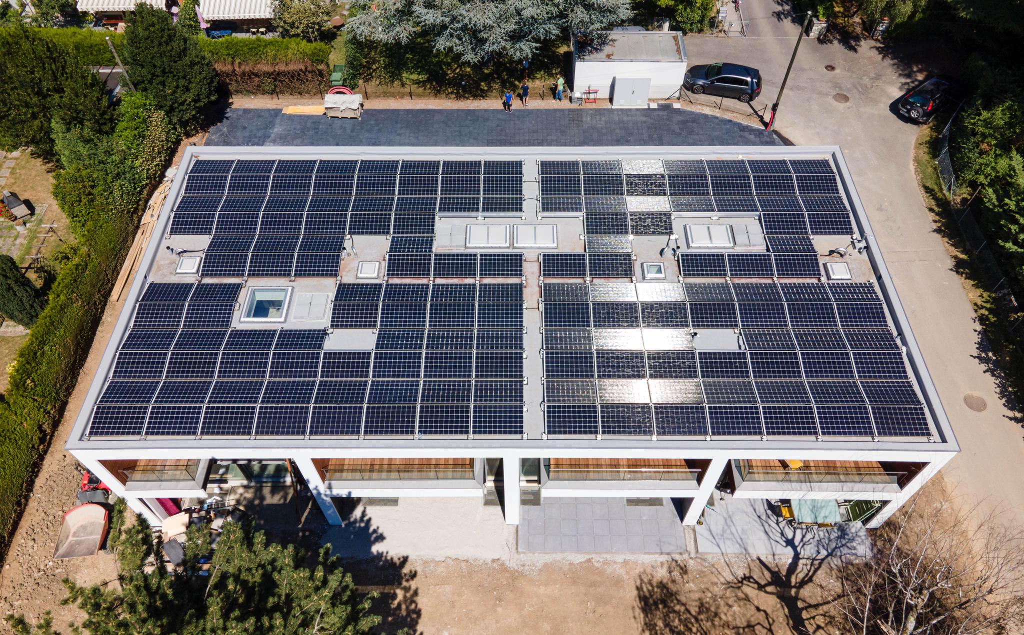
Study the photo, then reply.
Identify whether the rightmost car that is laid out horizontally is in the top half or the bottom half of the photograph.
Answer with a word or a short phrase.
top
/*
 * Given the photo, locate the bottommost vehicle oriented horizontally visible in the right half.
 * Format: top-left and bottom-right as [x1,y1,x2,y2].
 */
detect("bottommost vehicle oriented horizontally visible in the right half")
[686,61,767,102]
